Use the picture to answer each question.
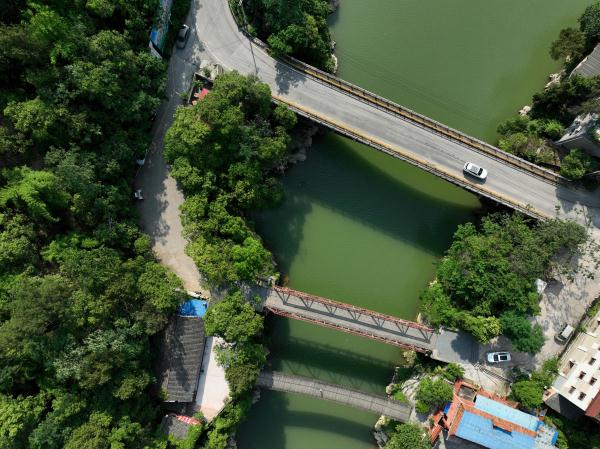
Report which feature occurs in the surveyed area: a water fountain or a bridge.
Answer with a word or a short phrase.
bridge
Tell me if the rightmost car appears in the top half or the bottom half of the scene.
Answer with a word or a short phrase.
bottom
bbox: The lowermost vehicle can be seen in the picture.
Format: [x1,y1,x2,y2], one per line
[488,352,513,365]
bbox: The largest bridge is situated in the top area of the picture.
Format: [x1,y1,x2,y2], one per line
[270,57,576,225]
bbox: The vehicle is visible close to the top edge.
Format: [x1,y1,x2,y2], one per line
[175,22,189,48]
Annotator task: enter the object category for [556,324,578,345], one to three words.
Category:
car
